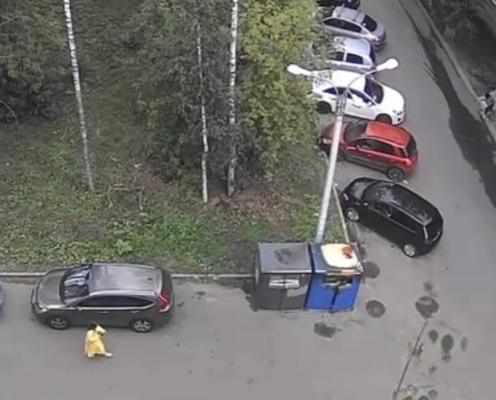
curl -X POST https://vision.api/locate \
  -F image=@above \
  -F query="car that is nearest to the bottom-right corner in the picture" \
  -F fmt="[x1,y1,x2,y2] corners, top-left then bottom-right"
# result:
[345,184,456,259]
